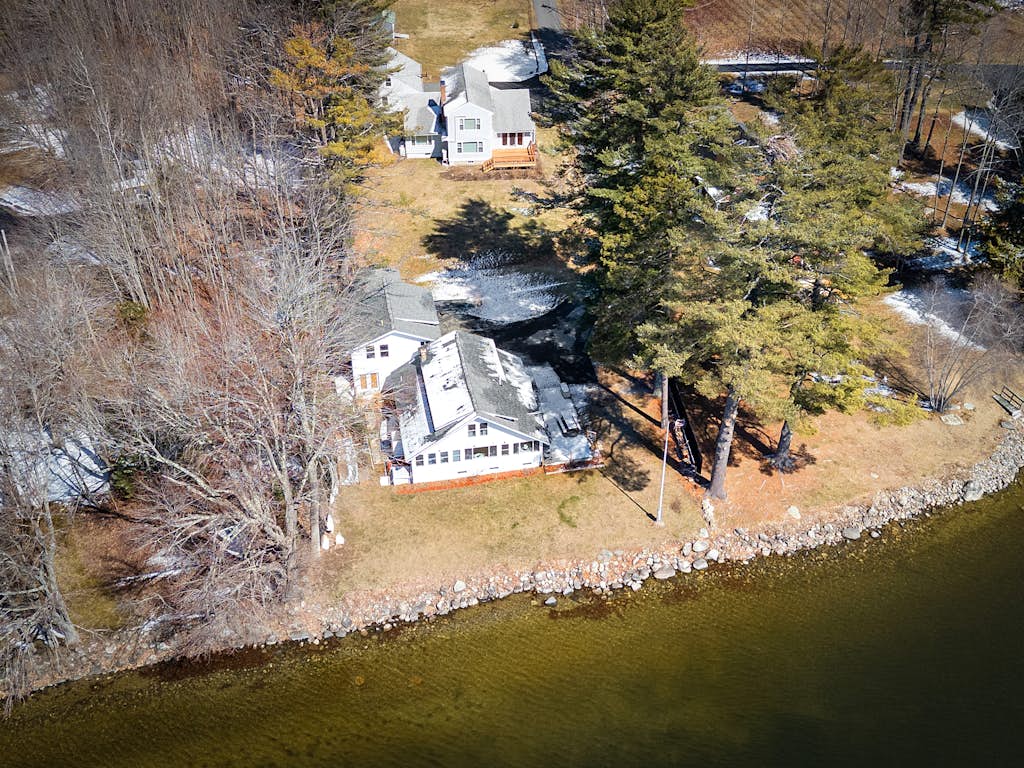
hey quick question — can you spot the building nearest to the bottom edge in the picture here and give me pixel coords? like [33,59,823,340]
[379,335,549,486]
